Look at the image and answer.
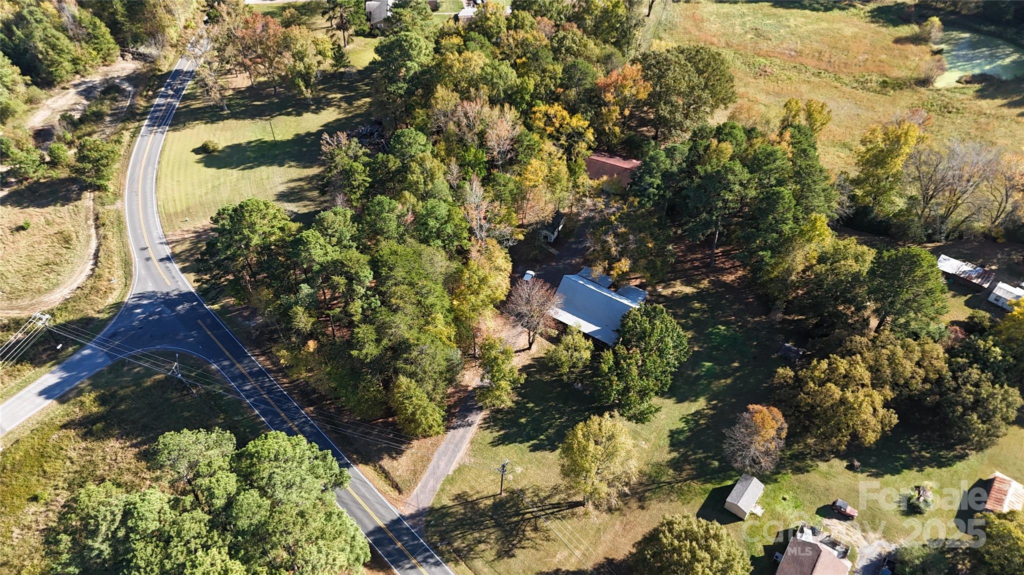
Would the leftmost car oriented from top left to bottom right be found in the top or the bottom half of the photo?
bottom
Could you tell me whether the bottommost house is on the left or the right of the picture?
right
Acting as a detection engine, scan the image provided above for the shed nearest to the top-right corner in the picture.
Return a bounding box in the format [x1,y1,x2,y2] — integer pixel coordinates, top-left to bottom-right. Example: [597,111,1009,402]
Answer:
[937,255,995,295]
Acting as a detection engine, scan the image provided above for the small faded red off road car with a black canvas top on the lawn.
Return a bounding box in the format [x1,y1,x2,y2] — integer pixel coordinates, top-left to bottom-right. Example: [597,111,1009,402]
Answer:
[833,500,860,522]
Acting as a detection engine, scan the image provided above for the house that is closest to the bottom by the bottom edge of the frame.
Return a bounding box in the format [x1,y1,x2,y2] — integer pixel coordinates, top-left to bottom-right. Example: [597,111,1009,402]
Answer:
[766,534,843,575]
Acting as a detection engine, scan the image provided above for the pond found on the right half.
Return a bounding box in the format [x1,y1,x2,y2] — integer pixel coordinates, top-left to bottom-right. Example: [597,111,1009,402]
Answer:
[932,28,1024,94]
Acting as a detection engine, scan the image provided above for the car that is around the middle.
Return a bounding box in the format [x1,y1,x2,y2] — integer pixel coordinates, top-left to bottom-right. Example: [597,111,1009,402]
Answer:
[522,272,534,290]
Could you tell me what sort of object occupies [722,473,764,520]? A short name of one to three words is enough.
shed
